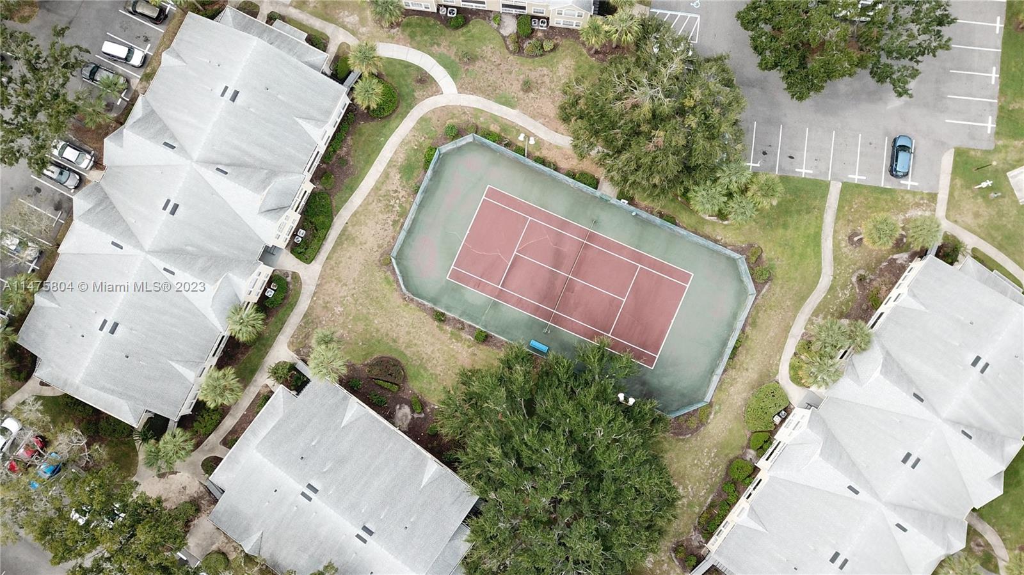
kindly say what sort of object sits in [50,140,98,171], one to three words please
car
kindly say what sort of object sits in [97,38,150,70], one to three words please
vehicle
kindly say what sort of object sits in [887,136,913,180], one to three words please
car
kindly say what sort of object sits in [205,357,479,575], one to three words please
building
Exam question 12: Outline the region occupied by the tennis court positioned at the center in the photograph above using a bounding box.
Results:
[397,144,744,411]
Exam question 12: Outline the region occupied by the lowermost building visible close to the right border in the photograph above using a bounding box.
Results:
[684,238,1024,575]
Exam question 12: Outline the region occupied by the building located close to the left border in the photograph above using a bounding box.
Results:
[17,3,361,439]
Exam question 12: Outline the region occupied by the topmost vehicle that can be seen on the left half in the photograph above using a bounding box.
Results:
[123,0,172,27]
